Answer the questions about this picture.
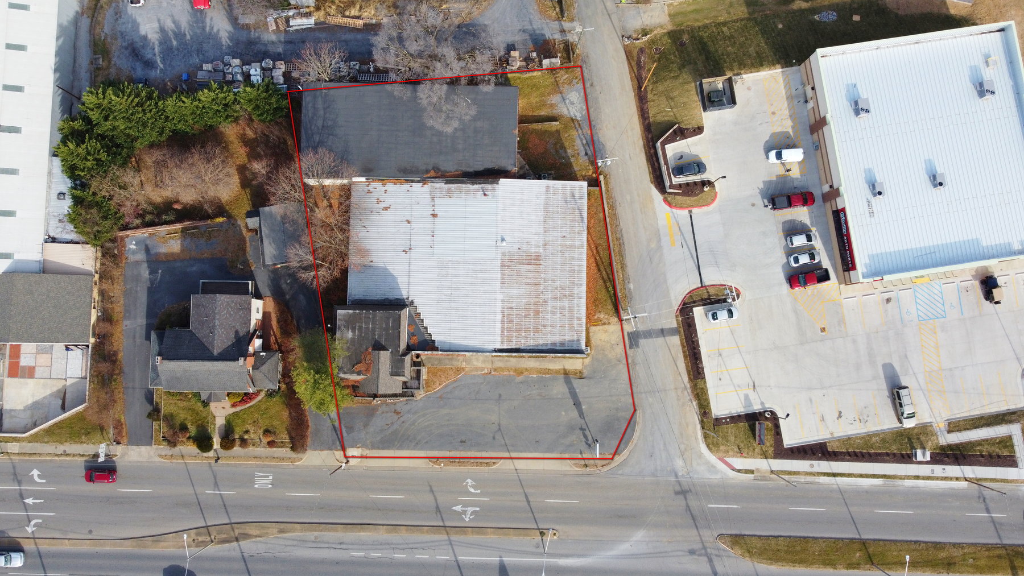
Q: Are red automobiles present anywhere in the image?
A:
Yes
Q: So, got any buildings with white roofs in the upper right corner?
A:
Yes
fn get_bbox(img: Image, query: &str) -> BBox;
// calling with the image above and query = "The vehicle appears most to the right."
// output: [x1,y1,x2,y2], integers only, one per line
[978,275,1005,306]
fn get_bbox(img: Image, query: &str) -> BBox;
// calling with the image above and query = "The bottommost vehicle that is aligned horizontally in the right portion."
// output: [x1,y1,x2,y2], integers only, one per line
[705,306,740,324]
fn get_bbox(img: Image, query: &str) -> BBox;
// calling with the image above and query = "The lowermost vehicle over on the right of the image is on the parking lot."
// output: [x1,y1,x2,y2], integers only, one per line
[892,387,917,426]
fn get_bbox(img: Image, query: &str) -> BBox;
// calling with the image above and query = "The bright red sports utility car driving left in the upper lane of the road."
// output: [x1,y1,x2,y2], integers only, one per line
[85,469,119,485]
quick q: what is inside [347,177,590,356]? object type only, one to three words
building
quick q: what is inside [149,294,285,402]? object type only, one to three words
house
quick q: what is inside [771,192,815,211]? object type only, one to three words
vehicle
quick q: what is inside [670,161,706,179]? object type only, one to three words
car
